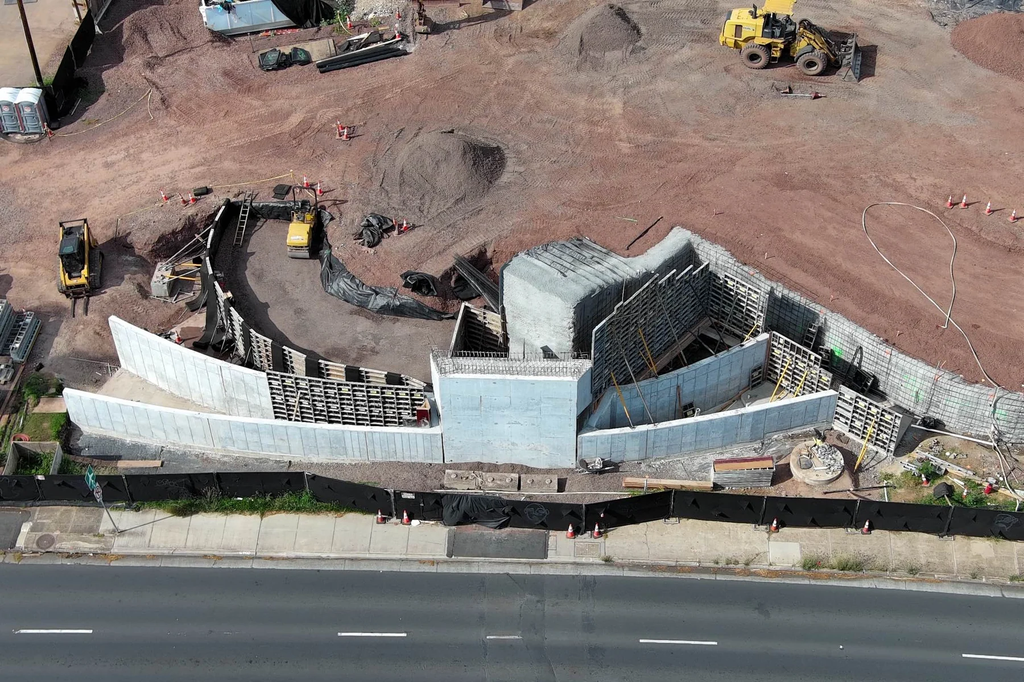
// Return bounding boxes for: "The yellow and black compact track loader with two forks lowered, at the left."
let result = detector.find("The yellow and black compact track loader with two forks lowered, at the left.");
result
[55,215,106,314]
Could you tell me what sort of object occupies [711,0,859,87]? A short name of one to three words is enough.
work vehicle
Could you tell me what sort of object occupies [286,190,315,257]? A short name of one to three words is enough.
work vehicle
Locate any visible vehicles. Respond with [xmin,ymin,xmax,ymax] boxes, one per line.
[711,0,859,87]
[286,190,315,257]
[413,0,432,31]
[55,215,106,314]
